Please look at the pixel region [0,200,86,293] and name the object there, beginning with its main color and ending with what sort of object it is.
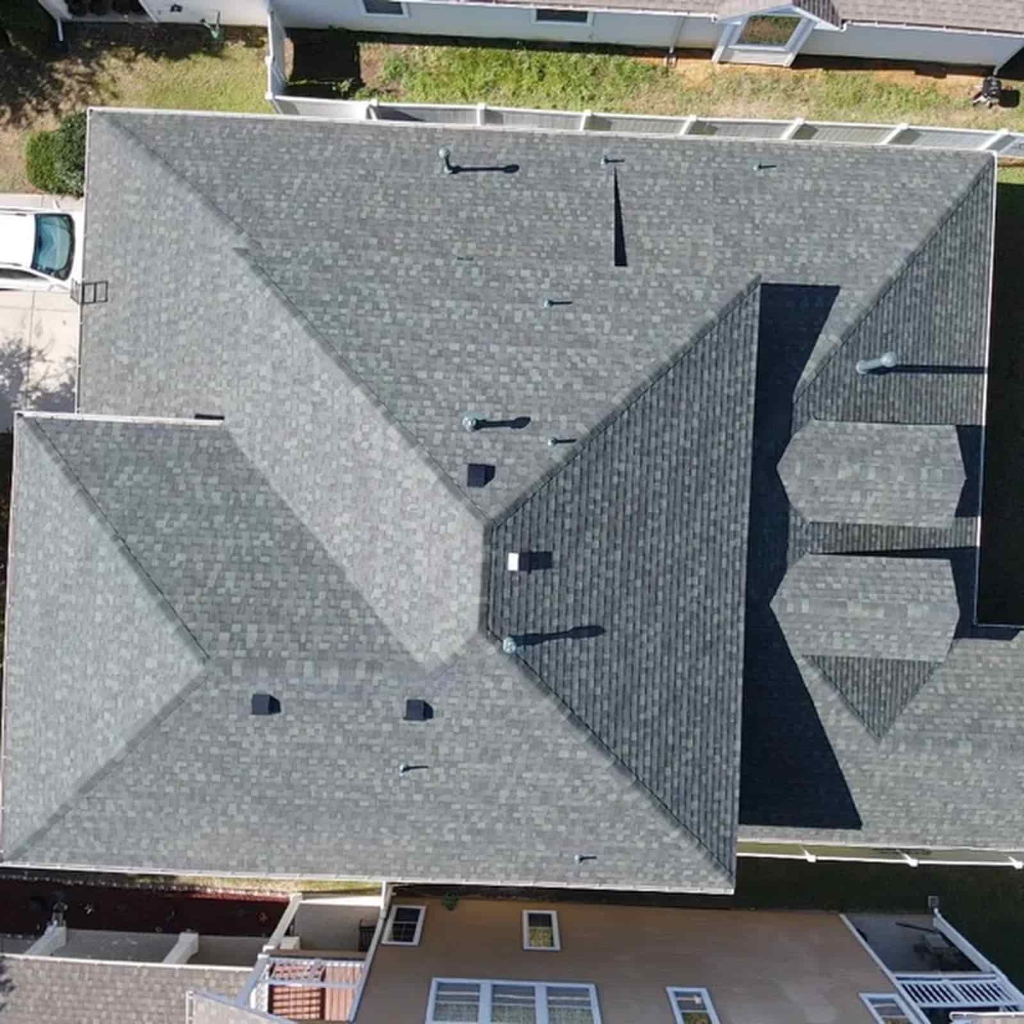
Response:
white car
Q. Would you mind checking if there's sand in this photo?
No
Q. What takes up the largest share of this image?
buildings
